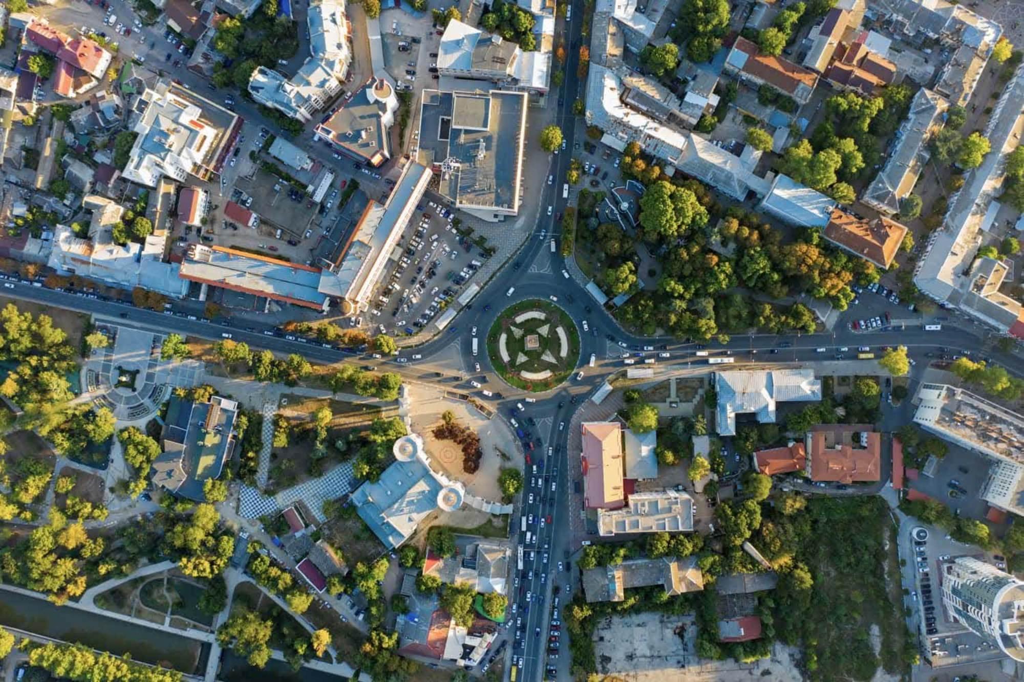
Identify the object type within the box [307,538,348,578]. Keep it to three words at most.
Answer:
barn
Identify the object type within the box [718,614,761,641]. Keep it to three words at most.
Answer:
shed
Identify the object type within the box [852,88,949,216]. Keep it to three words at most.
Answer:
house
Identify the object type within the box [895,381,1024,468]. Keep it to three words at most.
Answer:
building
